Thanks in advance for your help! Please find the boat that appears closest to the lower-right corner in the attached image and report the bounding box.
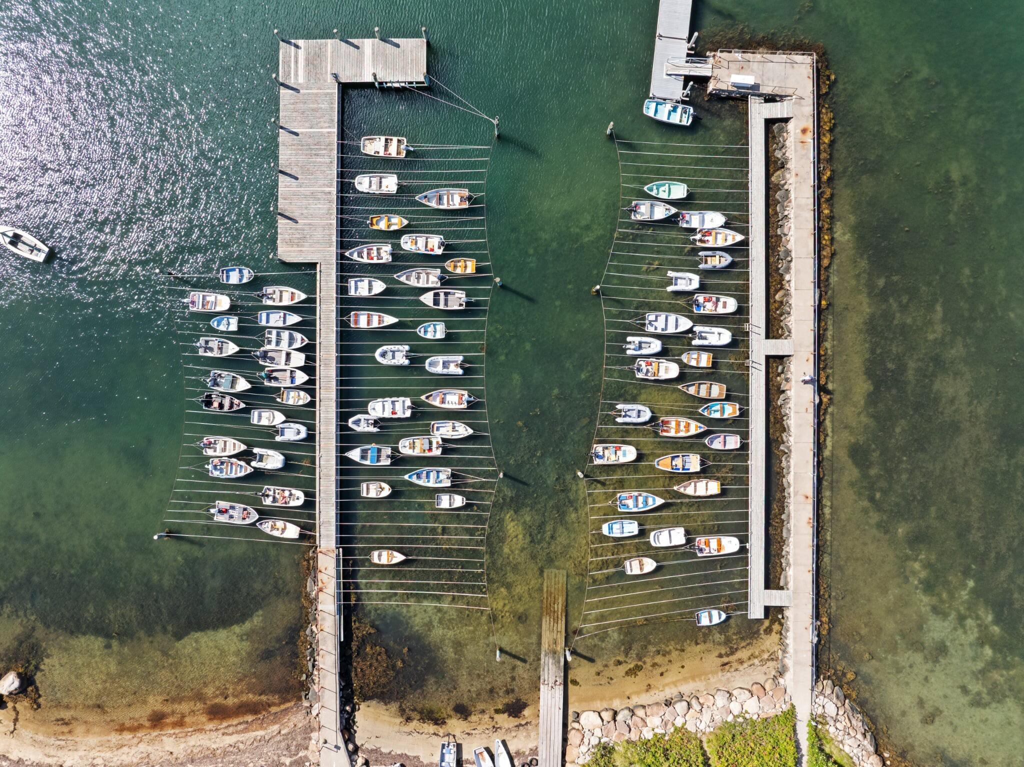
[694,610,726,626]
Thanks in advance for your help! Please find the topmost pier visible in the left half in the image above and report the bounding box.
[278,39,426,604]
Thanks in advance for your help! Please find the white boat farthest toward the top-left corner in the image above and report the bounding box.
[0,228,52,262]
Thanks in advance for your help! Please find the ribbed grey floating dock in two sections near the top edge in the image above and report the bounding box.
[649,0,693,103]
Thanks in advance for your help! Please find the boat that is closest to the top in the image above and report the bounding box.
[643,100,702,125]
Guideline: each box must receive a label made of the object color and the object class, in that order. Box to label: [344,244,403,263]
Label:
white boat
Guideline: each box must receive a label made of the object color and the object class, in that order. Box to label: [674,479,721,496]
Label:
white boat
